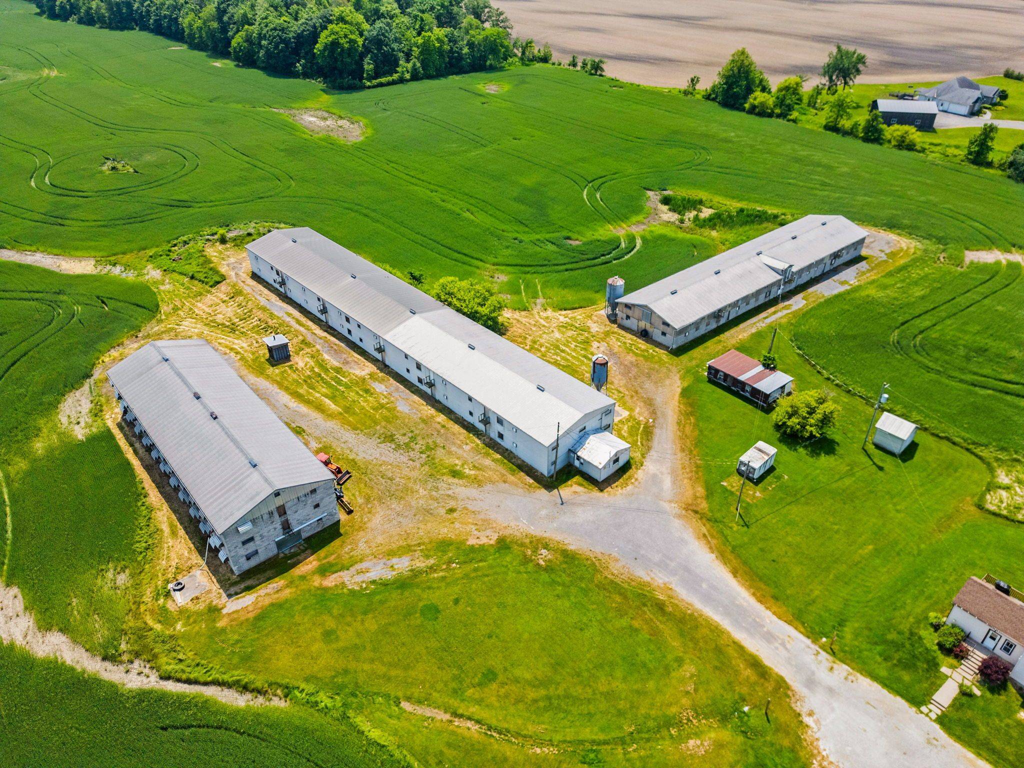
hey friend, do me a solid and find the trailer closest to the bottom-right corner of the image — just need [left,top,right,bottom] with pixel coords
[736,441,778,481]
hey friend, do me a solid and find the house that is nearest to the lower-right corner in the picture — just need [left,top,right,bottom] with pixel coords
[949,572,1024,705]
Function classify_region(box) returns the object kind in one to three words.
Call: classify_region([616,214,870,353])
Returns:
barn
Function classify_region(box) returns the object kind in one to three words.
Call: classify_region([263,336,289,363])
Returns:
shed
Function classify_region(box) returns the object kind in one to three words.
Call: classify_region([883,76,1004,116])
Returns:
house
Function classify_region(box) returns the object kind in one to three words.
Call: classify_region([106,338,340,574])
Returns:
barn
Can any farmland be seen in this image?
Yes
